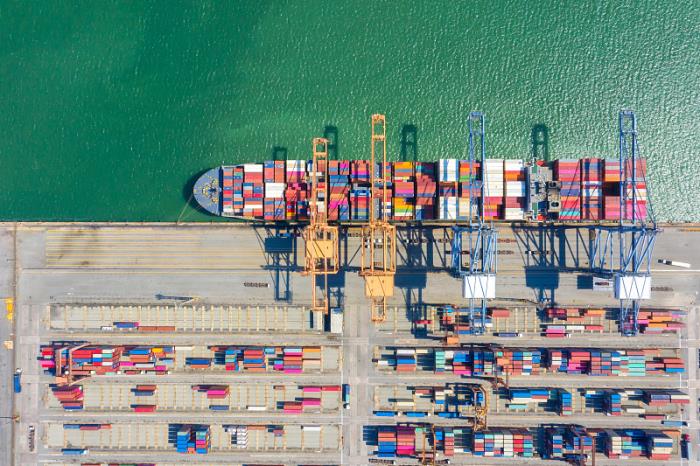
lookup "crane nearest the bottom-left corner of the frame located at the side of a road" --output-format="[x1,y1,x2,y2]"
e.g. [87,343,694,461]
[57,342,91,388]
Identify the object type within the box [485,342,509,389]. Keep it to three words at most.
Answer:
container crane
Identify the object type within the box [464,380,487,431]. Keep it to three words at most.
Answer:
container crane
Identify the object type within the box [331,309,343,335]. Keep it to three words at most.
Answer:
building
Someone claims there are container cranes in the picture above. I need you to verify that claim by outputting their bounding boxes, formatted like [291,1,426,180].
[438,111,501,334]
[57,342,91,388]
[464,380,487,431]
[438,300,459,346]
[355,115,397,321]
[566,420,596,466]
[304,138,344,314]
[416,420,436,466]
[564,109,656,335]
[485,342,509,389]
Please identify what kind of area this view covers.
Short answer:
port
